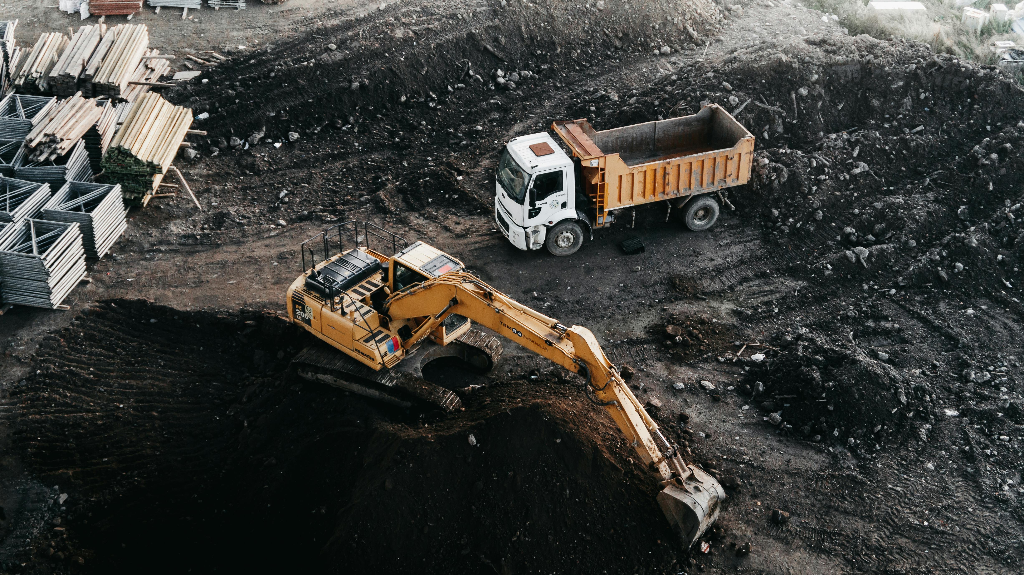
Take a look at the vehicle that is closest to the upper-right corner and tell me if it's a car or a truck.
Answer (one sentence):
It turns out the vehicle that is closest to the upper-right corner is a truck.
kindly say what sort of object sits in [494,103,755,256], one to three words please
truck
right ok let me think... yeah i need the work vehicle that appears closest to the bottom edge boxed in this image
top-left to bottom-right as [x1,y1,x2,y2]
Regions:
[279,216,728,558]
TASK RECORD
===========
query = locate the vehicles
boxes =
[494,103,755,256]
[279,216,728,558]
